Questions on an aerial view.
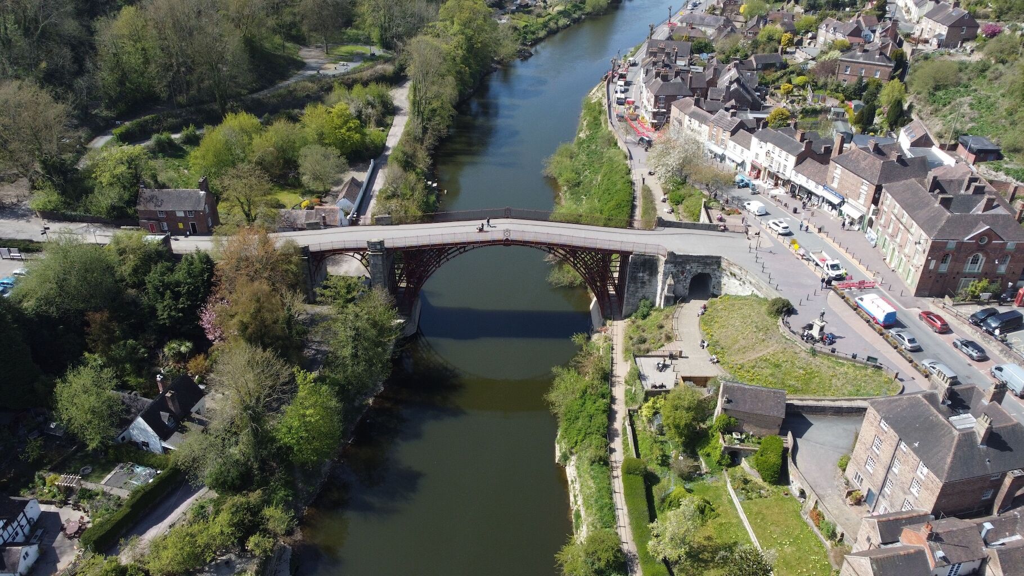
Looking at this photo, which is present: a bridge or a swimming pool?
bridge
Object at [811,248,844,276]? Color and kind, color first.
white truck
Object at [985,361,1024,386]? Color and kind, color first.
white vehicle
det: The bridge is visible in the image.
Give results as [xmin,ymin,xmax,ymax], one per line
[296,208,732,337]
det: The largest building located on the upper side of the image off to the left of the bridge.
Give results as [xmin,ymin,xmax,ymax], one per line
[137,177,227,237]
